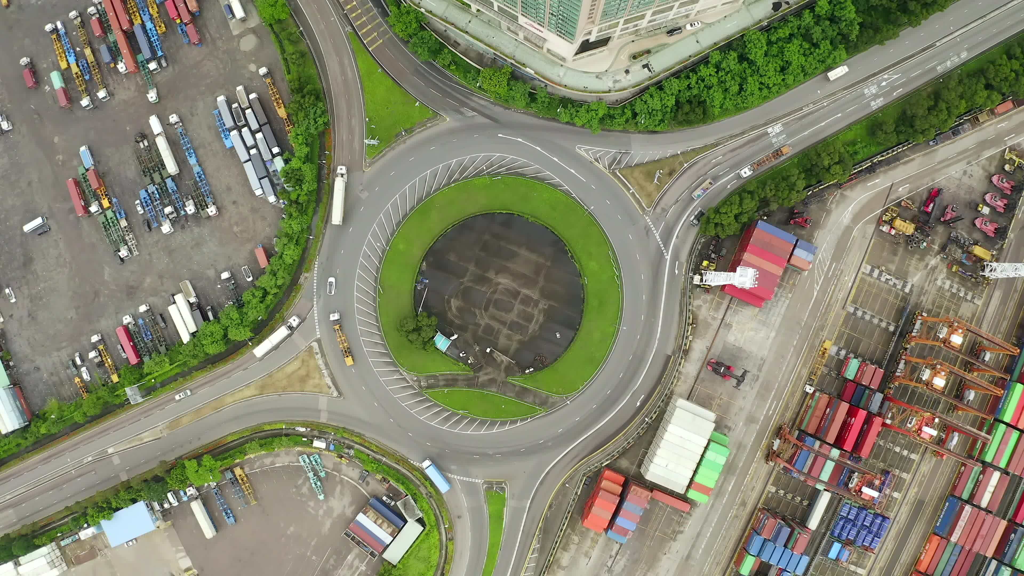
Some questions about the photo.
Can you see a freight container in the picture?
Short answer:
Yes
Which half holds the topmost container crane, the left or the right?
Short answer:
right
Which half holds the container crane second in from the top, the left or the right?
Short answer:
right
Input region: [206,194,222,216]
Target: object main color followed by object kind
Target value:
white vehicle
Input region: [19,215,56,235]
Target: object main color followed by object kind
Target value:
white bus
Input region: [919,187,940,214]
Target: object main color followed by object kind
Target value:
red work vehicle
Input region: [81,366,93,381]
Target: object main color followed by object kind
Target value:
white vehicle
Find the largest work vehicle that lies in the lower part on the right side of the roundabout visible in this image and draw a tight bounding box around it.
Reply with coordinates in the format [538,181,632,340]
[707,359,757,394]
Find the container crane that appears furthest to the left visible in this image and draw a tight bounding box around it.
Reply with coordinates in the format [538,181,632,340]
[763,421,882,505]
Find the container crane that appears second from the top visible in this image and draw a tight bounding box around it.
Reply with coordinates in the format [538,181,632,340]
[885,347,1005,421]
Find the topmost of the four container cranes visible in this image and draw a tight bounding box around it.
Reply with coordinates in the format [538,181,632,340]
[900,307,1022,380]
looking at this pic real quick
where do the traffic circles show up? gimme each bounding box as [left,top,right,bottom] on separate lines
[341,143,645,447]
